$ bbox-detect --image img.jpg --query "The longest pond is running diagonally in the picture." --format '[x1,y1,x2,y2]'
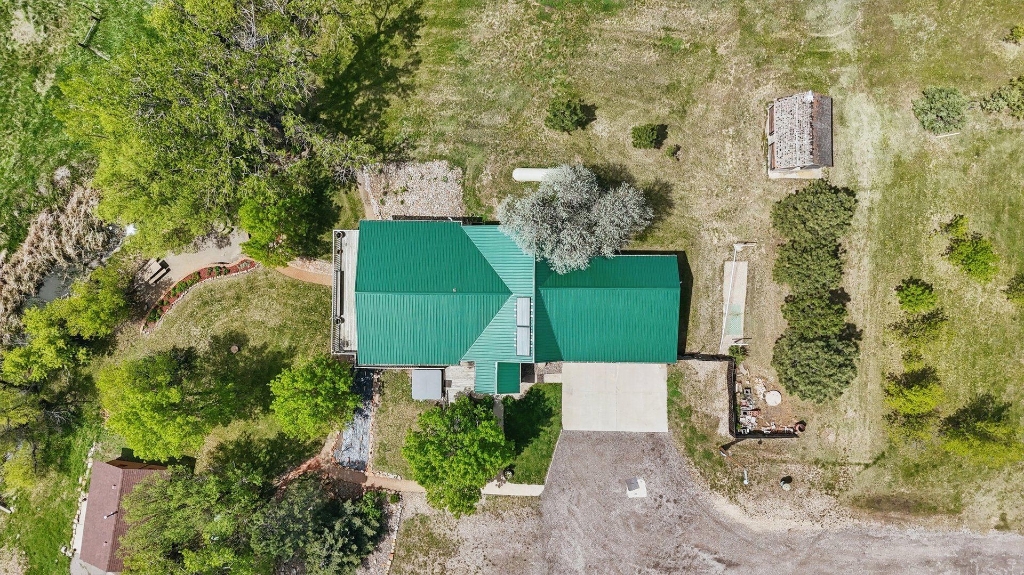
[7,224,139,388]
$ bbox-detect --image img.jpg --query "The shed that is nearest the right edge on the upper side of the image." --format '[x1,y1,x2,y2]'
[764,91,833,178]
